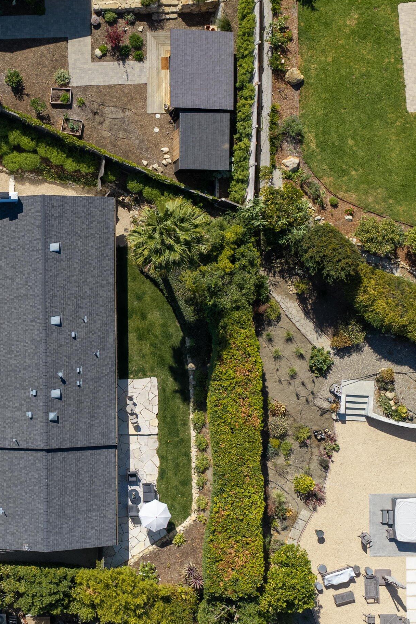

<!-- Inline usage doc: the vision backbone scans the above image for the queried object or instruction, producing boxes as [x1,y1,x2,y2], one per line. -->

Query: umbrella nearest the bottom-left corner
[138,500,170,532]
